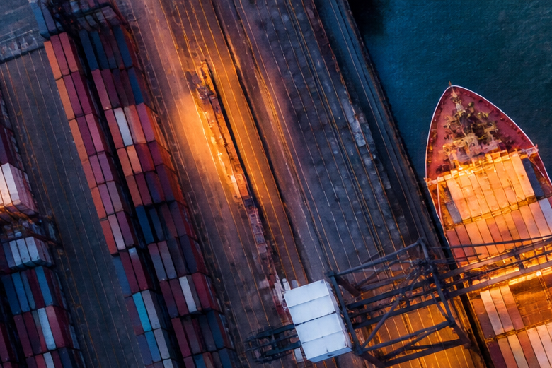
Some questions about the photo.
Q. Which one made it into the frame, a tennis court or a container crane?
container crane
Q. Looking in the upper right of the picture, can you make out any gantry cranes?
No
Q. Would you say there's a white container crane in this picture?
No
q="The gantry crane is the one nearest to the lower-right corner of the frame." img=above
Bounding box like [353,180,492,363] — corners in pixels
[246,225,552,368]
